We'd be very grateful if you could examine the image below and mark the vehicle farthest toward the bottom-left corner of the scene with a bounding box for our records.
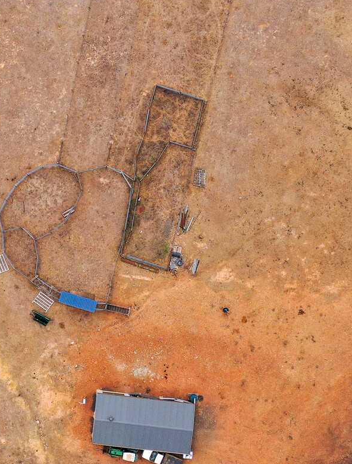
[101,446,139,463]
